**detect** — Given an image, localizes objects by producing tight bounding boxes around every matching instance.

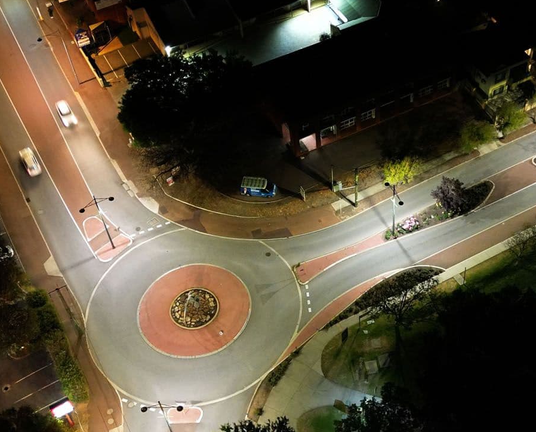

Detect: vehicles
[18,149,42,177]
[239,173,278,195]
[0,244,15,261]
[56,101,77,127]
